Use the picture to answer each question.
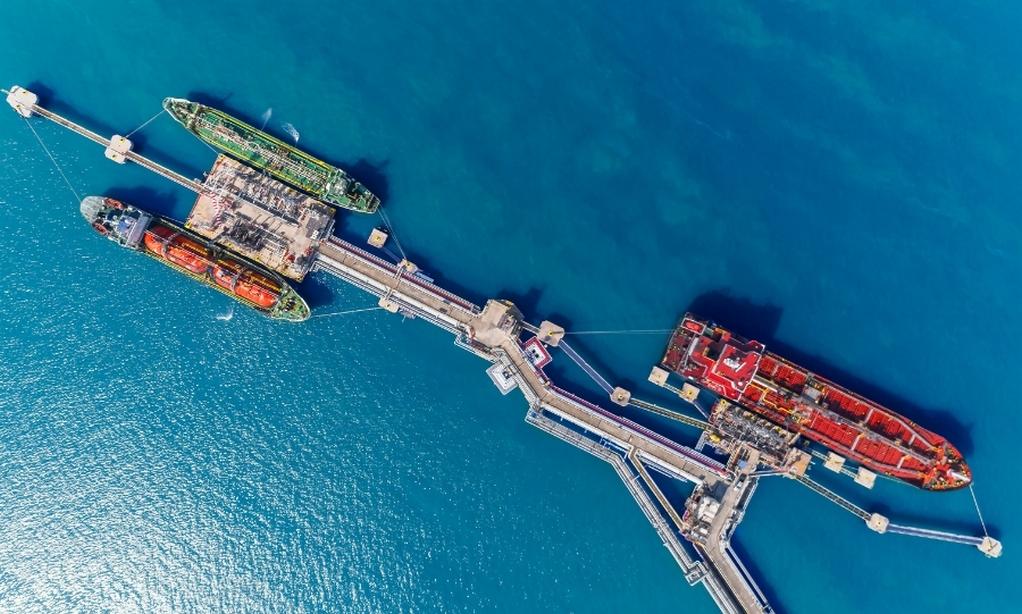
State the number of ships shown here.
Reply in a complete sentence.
The photo contains 3 ships.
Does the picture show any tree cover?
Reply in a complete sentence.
No, the scene doesn't show any tree cover.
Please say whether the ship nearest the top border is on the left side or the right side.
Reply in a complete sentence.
The ship nearest the top border appears in the left half of the scene.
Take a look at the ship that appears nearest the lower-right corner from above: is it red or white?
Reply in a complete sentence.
The ship that appears nearest the lower-right corner looks red in the image.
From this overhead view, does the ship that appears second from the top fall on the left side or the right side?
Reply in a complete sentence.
The ship that appears second from the top appears in the left half of the scene.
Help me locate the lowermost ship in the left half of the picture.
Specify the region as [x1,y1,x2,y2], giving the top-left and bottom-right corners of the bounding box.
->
[79,195,313,320]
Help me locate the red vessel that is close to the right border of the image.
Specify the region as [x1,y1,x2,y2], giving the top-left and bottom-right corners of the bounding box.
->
[661,313,975,488]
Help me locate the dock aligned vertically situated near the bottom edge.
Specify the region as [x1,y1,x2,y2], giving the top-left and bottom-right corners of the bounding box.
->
[710,448,773,614]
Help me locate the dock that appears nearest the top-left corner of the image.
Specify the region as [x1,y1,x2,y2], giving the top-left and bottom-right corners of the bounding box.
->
[187,154,335,282]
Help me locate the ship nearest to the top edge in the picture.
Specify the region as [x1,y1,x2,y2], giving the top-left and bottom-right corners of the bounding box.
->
[160,97,381,215]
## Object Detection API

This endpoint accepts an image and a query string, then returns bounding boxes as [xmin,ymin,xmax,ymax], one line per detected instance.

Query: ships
[160,97,381,215]
[79,195,313,320]
[661,313,975,488]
